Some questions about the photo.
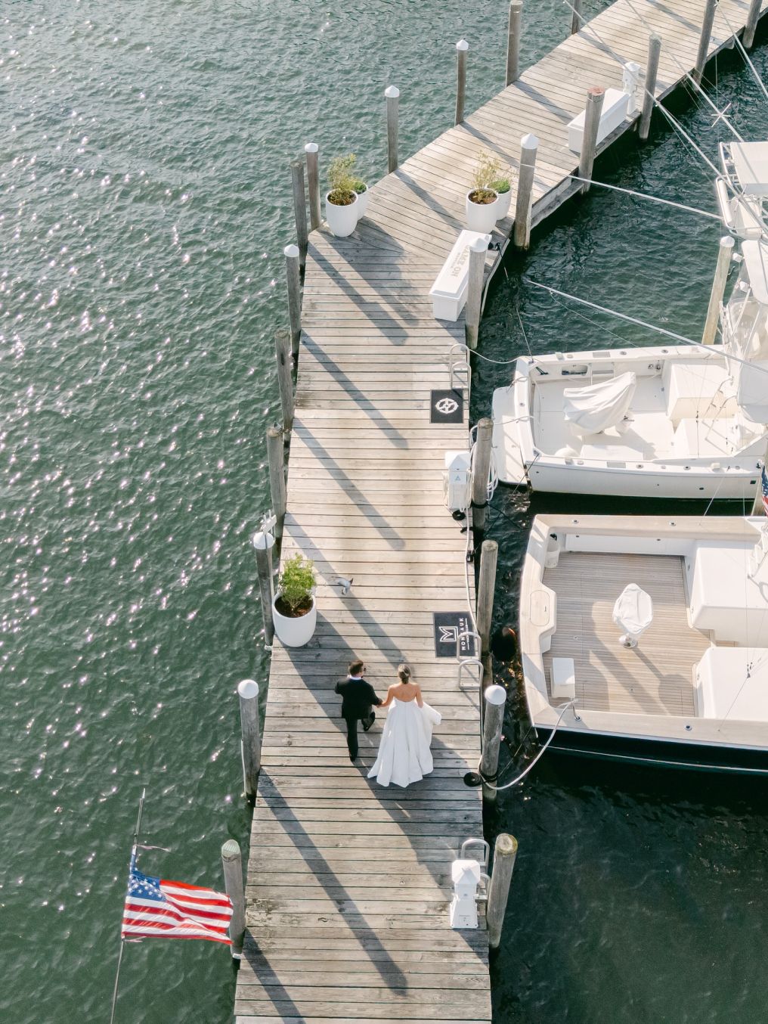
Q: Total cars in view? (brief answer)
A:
0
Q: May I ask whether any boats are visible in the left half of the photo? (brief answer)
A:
No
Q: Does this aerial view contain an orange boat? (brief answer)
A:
No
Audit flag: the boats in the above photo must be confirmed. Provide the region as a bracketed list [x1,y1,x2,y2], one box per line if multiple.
[519,455,768,777]
[492,0,768,499]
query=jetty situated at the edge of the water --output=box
[233,0,768,1024]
